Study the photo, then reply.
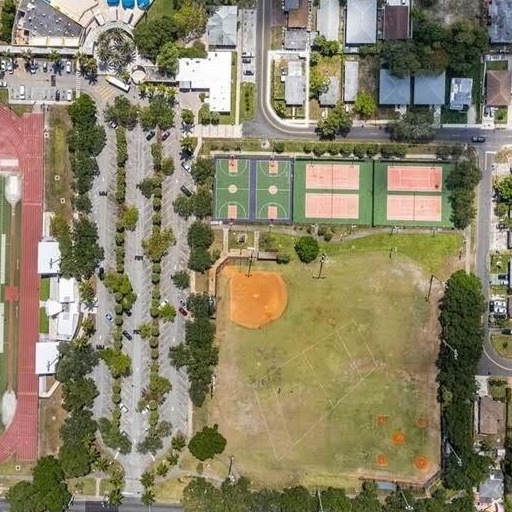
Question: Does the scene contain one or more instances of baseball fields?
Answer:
Yes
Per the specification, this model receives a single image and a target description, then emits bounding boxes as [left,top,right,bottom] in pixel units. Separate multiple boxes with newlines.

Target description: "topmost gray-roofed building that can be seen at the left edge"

[18,0,84,38]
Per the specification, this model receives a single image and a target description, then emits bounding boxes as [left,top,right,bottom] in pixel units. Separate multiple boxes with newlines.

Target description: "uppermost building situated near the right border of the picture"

[487,0,512,43]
